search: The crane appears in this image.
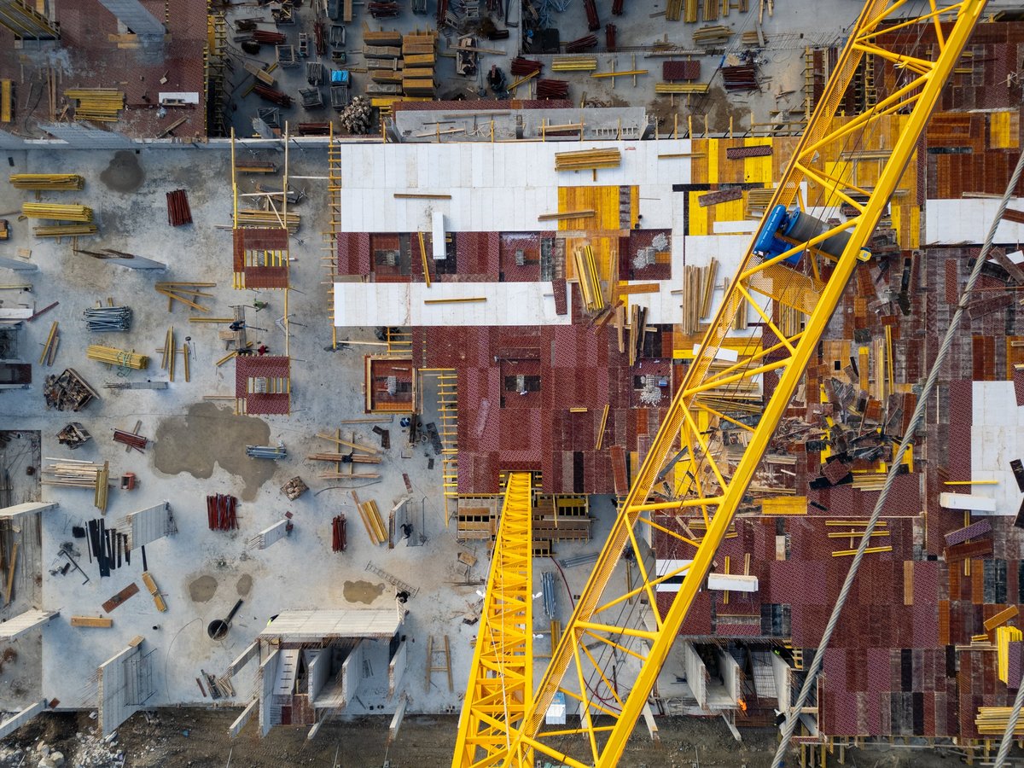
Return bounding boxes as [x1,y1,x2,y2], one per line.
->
[449,0,983,768]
